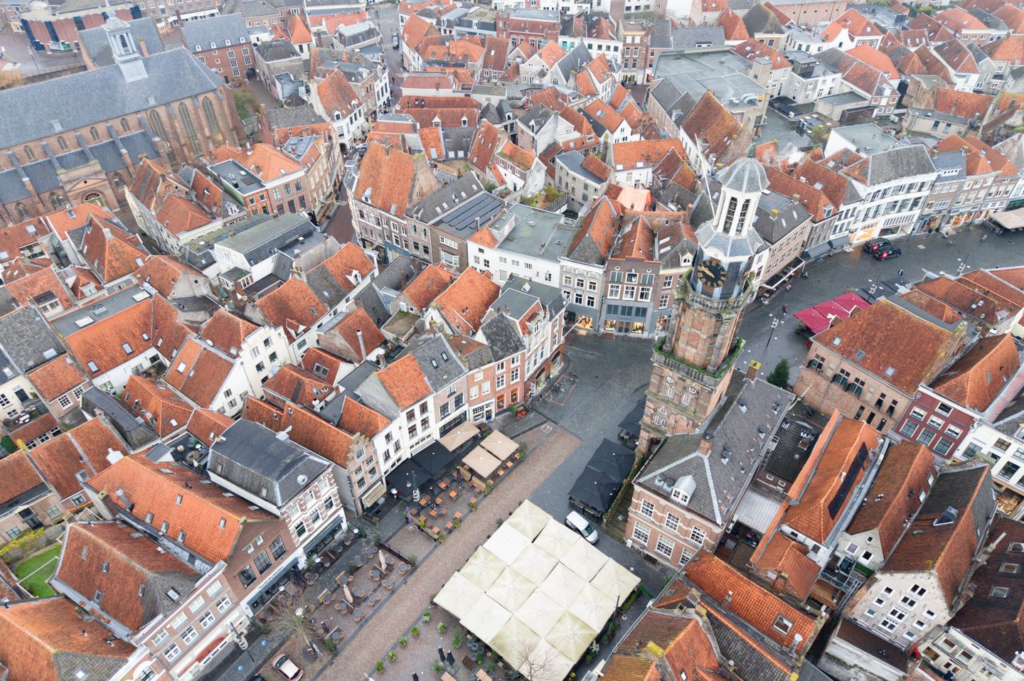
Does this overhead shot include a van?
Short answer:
Yes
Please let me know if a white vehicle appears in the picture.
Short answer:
Yes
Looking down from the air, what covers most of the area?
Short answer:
buildings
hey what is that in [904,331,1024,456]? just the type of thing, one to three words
house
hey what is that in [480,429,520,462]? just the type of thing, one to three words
umbrella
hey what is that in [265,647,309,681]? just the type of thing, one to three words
car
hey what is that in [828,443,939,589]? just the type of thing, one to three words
house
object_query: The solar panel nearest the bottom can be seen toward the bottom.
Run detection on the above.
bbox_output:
[833,437,870,518]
